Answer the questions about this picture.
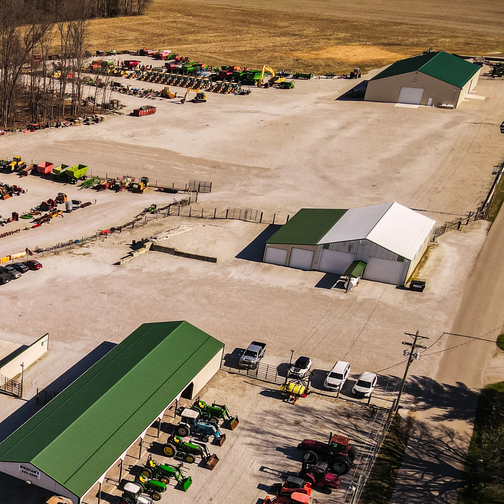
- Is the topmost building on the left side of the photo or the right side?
right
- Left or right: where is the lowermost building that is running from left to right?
right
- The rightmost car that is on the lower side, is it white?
Yes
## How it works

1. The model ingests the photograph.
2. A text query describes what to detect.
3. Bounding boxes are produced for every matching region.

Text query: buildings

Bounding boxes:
[364,51,481,108]
[0,318,226,504]
[263,201,436,286]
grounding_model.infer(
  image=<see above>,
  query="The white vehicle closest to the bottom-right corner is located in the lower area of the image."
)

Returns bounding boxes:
[352,368,380,394]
